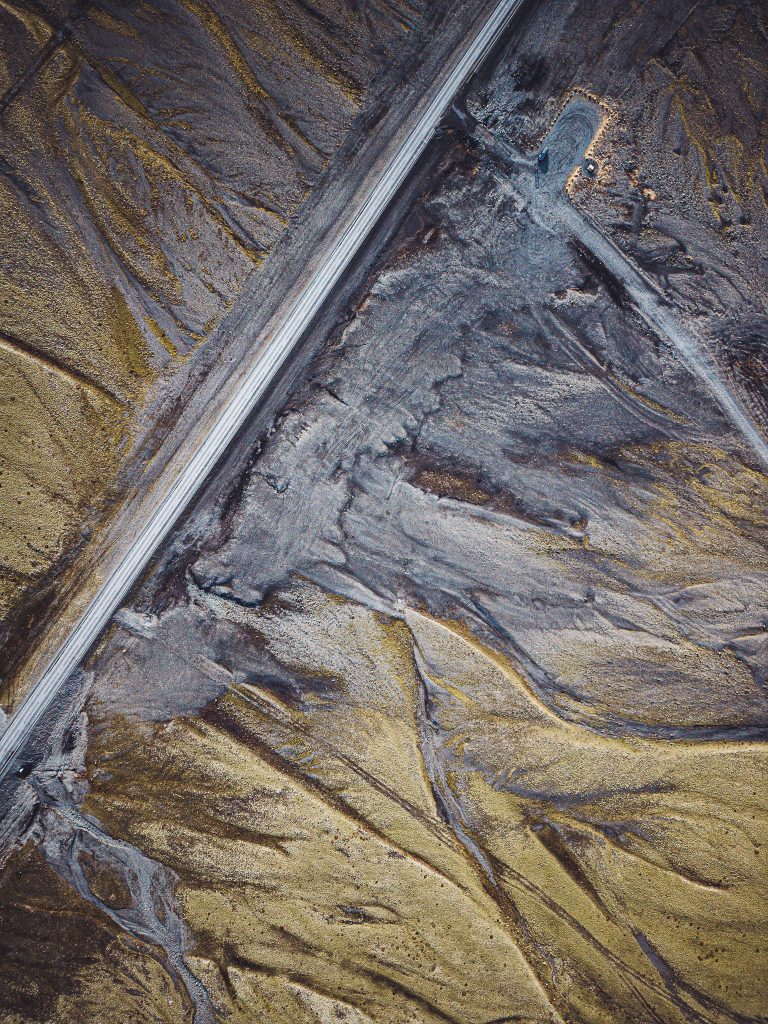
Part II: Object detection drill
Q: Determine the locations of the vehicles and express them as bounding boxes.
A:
[536,146,549,161]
